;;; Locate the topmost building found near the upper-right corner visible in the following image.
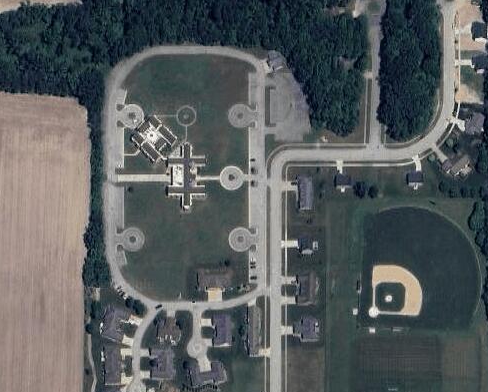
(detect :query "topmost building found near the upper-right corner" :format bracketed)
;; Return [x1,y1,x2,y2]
[471,22,488,42]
